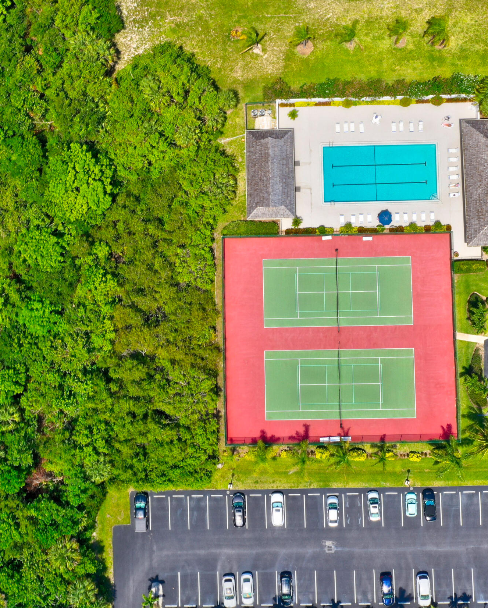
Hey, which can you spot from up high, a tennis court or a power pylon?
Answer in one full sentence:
Visible in the photo is a tennis court.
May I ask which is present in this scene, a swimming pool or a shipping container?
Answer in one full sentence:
Of the two, only a swimming pool appears.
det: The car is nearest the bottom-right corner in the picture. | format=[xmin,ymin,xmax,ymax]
[416,571,431,606]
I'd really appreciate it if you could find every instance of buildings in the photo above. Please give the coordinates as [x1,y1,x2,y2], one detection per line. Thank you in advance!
[461,119,488,246]
[245,128,295,220]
